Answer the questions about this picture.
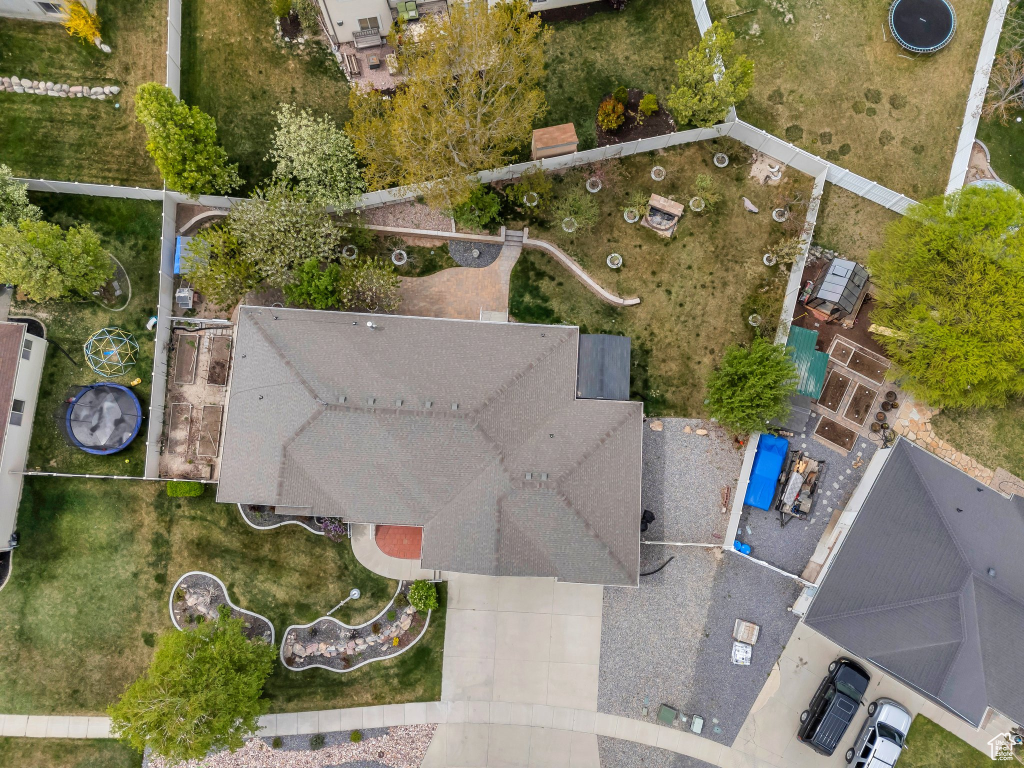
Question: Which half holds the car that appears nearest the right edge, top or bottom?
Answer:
bottom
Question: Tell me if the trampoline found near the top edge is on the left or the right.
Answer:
right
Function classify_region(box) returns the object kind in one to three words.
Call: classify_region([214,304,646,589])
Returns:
house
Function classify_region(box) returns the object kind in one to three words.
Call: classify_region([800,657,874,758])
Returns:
car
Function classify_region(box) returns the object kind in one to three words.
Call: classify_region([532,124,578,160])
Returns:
shed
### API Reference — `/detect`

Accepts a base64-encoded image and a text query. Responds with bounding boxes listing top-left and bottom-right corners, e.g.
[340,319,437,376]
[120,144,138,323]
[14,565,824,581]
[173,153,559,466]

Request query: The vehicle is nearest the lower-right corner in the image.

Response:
[847,698,915,768]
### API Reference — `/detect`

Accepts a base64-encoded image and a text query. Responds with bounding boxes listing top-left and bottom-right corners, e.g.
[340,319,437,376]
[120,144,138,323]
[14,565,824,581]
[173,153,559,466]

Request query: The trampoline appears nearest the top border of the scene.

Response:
[885,0,953,60]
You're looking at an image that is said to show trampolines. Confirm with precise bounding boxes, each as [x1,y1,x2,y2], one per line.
[885,0,953,60]
[51,378,150,458]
